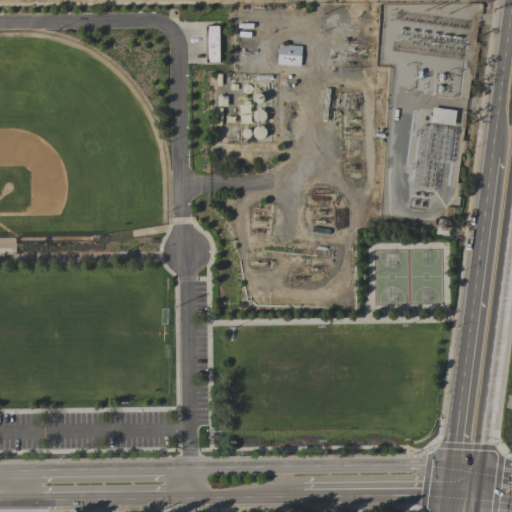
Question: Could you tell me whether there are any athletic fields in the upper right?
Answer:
No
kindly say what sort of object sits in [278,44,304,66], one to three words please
shed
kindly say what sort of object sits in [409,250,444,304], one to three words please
basketball court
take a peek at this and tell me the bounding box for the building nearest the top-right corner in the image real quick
[432,108,458,124]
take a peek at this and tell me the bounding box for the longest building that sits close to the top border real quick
[206,25,220,62]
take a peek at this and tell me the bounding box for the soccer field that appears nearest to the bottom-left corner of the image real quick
[0,258,176,408]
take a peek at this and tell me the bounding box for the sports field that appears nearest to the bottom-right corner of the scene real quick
[212,324,452,434]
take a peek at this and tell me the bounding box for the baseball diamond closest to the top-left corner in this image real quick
[0,30,170,236]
